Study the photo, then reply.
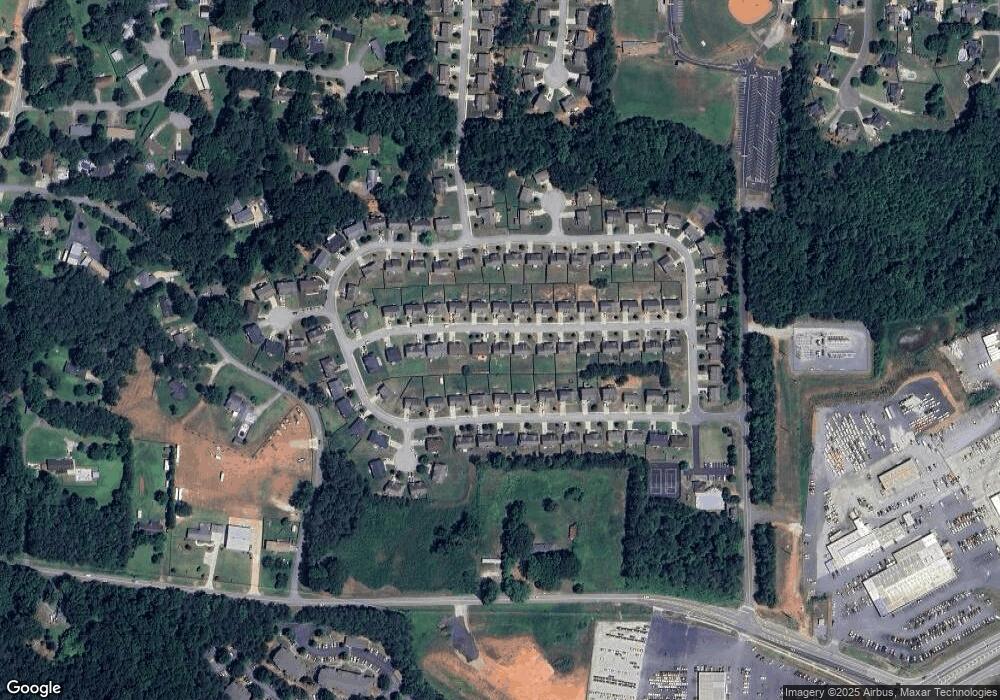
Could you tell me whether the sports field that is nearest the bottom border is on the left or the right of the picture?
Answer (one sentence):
You can find the sports field that is nearest the bottom border on the right side of the picture.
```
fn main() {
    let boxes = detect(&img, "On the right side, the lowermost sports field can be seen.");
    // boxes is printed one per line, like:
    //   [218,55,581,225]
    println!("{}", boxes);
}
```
[617,61,734,144]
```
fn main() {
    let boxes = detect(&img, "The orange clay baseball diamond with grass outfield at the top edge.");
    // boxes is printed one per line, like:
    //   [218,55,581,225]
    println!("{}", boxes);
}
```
[685,0,776,54]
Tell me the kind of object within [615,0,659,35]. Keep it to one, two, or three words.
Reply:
sports field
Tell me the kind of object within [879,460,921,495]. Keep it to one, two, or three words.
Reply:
building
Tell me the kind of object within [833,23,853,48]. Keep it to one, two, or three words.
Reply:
house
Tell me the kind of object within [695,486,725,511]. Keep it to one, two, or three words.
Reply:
building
